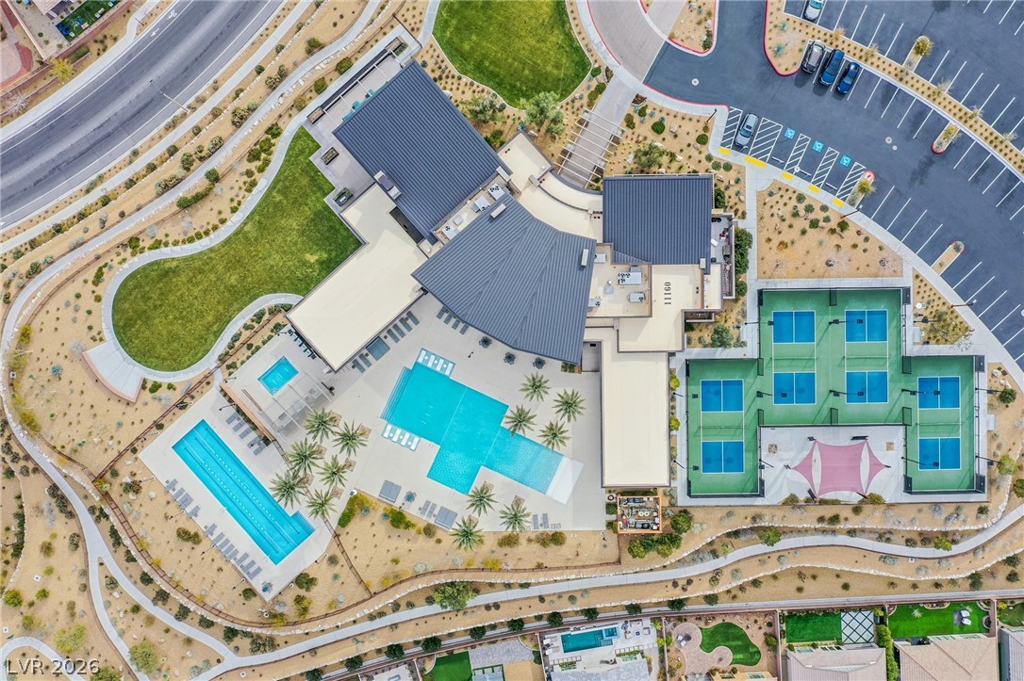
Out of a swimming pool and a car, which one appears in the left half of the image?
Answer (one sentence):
Visible in the left half of the image is a swimming pool.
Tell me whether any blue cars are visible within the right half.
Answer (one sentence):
Yes, within the right half there is a blue car.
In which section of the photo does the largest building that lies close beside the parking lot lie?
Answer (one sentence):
The largest building that lies close beside the parking lot is located in the center region of the scene.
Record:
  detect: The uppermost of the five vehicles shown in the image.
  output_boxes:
[804,0,824,21]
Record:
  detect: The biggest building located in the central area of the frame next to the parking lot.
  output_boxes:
[286,60,724,488]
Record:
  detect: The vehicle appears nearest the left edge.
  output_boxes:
[735,110,759,146]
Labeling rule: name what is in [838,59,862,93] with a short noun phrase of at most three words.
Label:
car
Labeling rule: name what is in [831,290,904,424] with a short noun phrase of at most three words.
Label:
sports court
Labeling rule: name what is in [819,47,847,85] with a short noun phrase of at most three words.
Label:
car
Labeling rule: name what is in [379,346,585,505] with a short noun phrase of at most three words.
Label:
swimming pool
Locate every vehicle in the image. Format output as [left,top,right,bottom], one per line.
[735,110,759,146]
[819,47,847,85]
[804,0,824,21]
[838,59,862,93]
[802,37,826,72]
